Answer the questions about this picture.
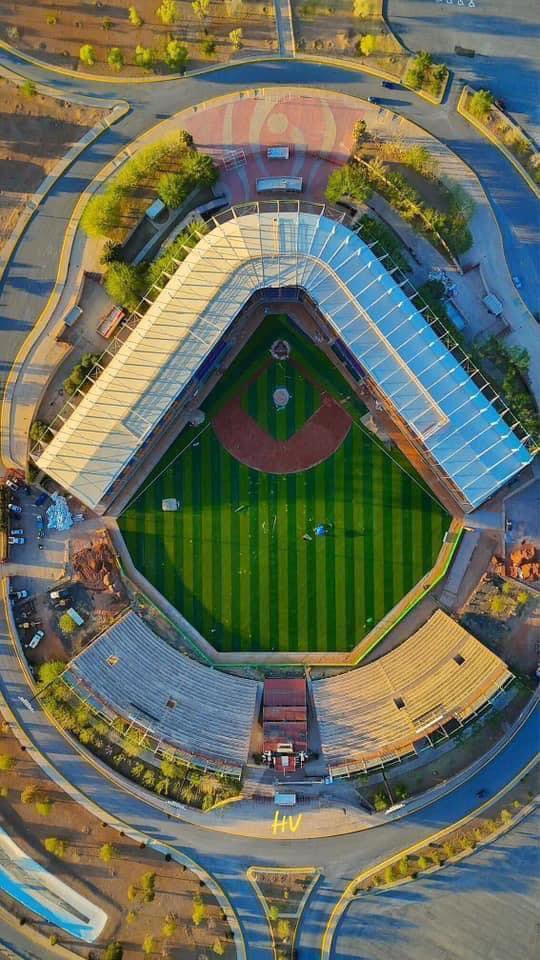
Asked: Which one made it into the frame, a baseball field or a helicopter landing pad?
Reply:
baseball field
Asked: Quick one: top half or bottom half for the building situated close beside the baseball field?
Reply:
bottom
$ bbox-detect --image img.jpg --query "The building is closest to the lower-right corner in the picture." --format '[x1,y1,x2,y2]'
[262,672,308,778]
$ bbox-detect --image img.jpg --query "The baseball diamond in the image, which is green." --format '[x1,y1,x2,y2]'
[103,304,468,665]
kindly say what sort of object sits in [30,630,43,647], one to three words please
vehicle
